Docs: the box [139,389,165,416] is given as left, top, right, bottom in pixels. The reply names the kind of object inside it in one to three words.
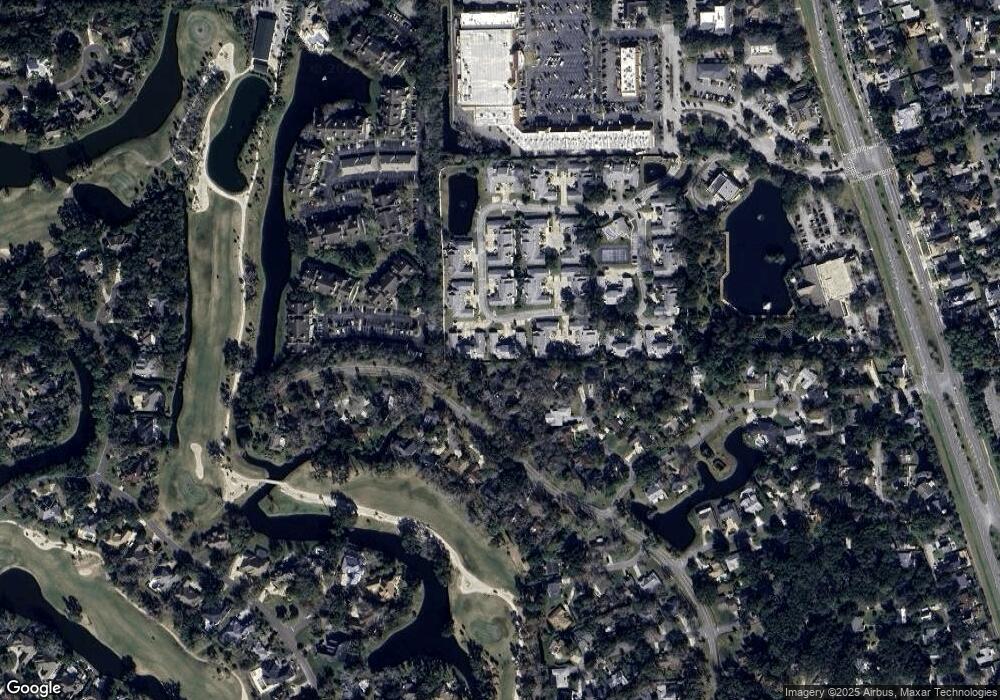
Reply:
house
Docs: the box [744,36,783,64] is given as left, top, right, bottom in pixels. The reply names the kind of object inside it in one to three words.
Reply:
building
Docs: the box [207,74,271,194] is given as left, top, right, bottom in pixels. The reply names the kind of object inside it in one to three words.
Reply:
pond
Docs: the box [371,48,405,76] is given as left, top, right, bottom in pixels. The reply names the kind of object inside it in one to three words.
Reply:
building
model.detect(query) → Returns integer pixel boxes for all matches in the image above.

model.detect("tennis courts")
[598,246,631,264]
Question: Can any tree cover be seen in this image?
Yes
